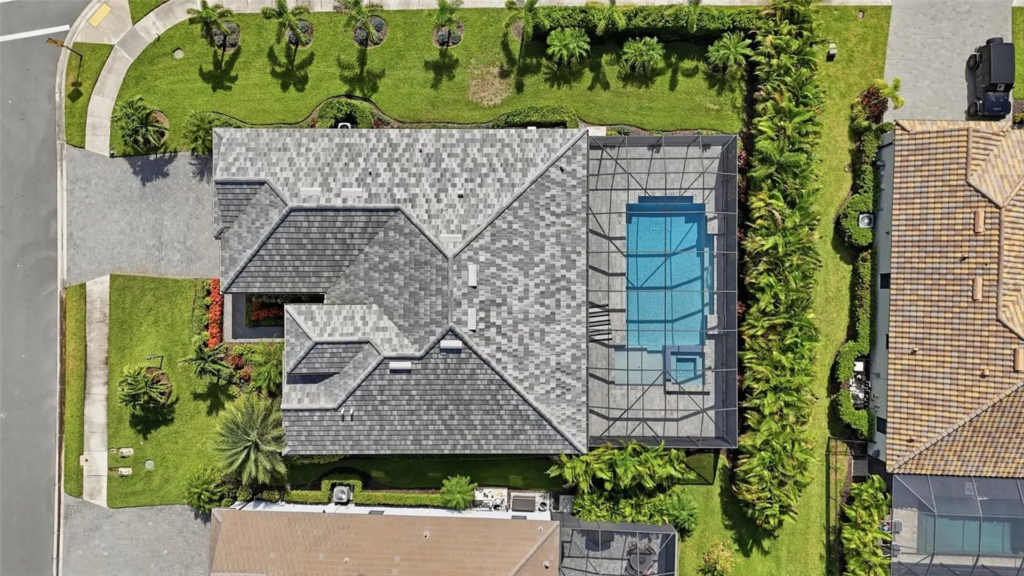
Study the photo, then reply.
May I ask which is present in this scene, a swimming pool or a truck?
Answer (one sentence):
It is a swimming pool that can be seen here.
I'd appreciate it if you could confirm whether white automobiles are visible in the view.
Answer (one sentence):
No, I find no white automobile anywhere in the image.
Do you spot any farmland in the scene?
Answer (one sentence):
No, farmland can't be seen anywhere here.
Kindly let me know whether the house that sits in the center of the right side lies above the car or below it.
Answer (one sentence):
In the image, the house that sits in the center of the right side sits below the car.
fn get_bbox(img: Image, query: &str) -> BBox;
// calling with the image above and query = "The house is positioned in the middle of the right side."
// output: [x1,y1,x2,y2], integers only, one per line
[868,120,1024,478]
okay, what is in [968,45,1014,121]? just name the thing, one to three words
car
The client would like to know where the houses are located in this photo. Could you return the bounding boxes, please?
[868,120,1024,478]
[211,126,589,456]
[209,500,561,576]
